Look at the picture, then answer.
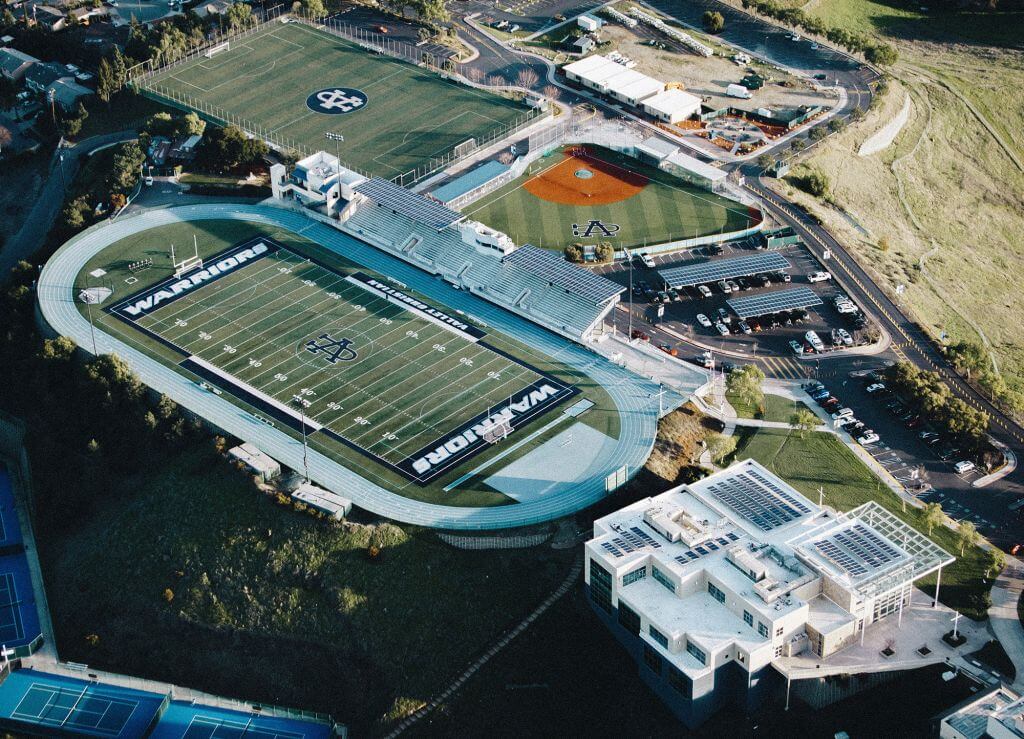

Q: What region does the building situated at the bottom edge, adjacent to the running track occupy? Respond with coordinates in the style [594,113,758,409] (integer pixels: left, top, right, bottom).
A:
[583,456,955,735]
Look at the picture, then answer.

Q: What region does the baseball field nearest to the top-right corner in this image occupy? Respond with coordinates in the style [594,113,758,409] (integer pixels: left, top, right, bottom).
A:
[453,144,768,258]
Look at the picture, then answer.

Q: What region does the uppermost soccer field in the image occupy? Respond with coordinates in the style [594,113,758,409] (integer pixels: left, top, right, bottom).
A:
[128,15,542,189]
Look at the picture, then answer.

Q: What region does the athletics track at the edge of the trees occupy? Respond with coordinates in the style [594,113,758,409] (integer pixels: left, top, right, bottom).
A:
[37,203,658,530]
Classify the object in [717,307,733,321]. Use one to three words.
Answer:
car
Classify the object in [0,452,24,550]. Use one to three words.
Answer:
tennis court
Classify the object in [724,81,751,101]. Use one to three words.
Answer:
vehicle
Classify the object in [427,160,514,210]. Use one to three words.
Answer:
shed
